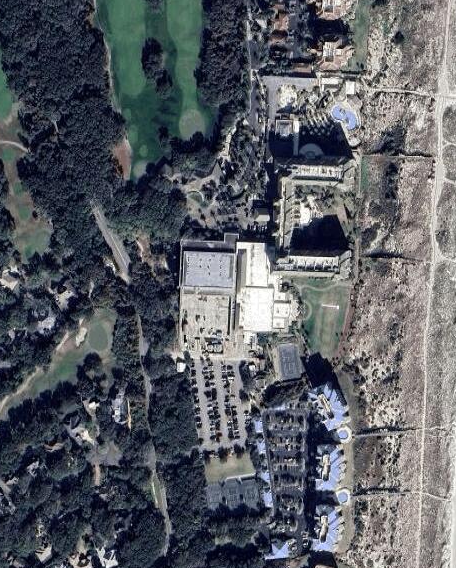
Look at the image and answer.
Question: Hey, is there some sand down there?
Yes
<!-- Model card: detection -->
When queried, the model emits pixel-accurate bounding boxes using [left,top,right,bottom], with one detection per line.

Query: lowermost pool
[337,489,351,505]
